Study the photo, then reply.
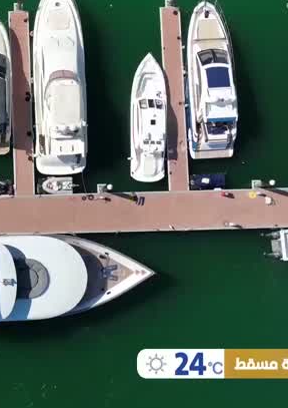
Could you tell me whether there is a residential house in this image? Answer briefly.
No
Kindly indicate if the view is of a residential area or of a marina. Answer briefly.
marina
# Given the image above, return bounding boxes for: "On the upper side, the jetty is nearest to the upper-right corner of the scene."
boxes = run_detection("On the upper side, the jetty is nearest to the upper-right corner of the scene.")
[159,8,189,190]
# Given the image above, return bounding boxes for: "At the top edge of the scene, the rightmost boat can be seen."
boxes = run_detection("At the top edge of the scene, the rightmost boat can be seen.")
[173,0,242,162]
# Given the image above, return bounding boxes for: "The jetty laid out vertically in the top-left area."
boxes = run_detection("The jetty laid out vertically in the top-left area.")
[8,10,35,194]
